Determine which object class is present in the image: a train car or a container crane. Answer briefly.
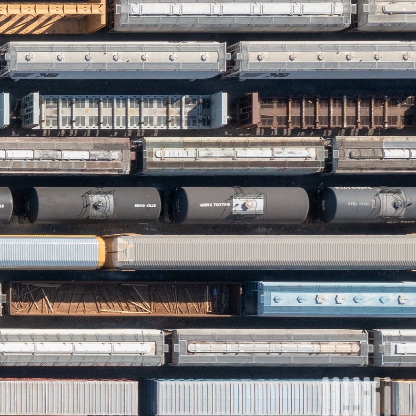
train car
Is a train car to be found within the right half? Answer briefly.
Yes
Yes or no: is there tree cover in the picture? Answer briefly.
No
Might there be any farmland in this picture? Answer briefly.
No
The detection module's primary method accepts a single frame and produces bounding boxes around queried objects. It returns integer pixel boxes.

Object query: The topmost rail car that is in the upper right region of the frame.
[227,90,416,129]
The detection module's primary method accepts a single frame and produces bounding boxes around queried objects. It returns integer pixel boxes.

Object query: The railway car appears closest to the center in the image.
[163,186,313,225]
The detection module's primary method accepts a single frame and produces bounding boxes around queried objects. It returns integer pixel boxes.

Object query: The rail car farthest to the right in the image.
[369,376,416,416]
